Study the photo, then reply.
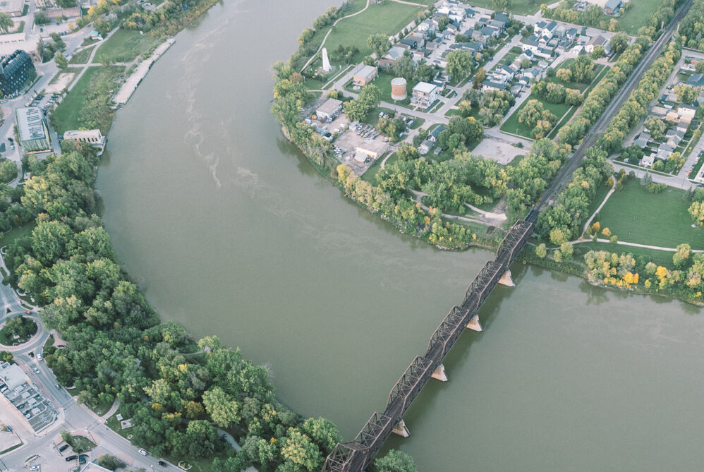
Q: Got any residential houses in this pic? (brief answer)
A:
Yes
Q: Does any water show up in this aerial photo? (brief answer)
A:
Yes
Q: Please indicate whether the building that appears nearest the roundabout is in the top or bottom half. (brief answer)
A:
bottom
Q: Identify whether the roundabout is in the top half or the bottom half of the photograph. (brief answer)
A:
bottom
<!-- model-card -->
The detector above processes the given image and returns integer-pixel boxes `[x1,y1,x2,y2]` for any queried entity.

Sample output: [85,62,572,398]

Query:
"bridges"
[322,218,540,472]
